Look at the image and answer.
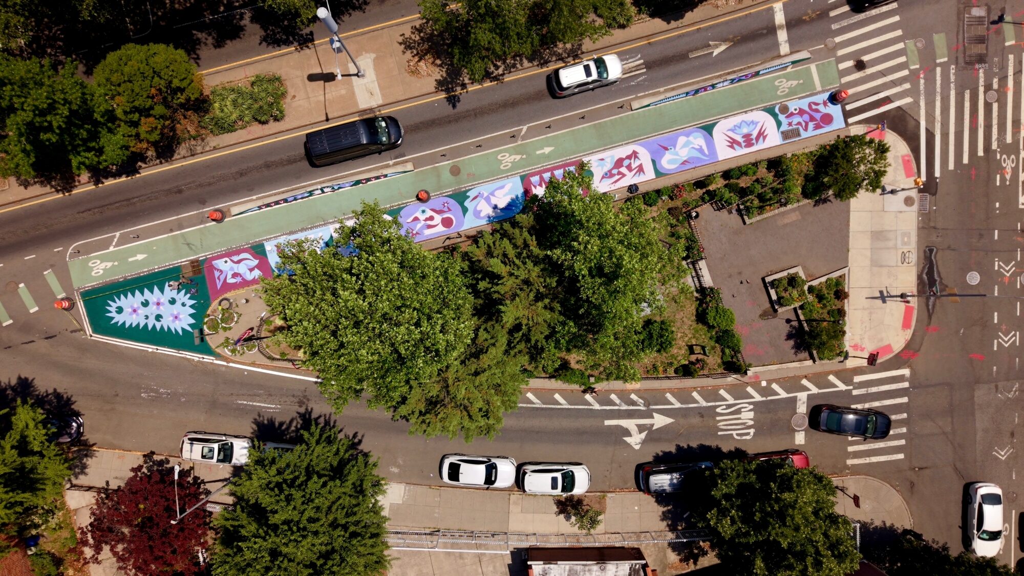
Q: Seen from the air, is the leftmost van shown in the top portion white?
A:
No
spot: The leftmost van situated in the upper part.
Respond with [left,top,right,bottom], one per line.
[304,113,407,166]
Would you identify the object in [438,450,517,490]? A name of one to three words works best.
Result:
car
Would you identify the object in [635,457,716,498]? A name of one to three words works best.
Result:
car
